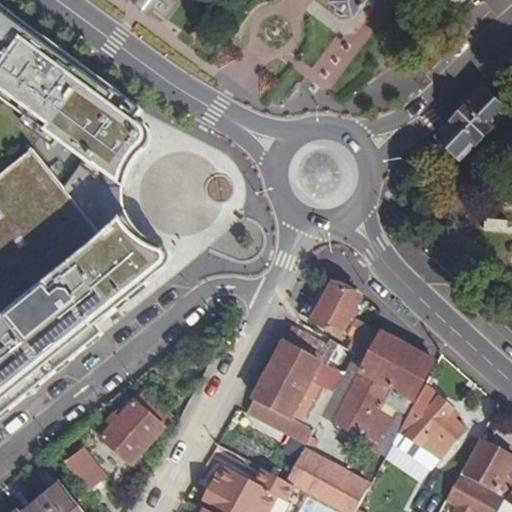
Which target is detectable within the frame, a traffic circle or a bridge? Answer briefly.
traffic circle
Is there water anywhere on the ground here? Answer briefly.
No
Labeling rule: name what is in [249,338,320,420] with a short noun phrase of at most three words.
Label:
house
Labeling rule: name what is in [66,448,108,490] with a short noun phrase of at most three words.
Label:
shed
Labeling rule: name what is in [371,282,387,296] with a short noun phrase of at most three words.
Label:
car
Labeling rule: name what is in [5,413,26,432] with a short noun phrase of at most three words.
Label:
vehicle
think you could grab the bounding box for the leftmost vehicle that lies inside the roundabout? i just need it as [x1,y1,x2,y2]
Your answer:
[310,214,327,228]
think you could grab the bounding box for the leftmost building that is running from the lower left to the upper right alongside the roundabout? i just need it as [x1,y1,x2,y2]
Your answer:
[0,216,164,414]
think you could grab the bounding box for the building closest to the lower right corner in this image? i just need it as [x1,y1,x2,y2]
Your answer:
[462,439,512,497]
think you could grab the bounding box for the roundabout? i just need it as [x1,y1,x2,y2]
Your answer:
[227,99,406,276]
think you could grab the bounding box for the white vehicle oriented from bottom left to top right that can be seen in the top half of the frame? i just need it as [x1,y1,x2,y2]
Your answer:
[454,42,470,60]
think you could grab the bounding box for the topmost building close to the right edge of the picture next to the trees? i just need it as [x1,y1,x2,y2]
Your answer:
[447,92,504,159]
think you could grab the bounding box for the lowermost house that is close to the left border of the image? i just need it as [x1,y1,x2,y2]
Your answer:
[16,480,82,512]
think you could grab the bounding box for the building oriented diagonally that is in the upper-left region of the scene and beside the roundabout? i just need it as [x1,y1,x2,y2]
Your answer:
[0,7,150,184]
